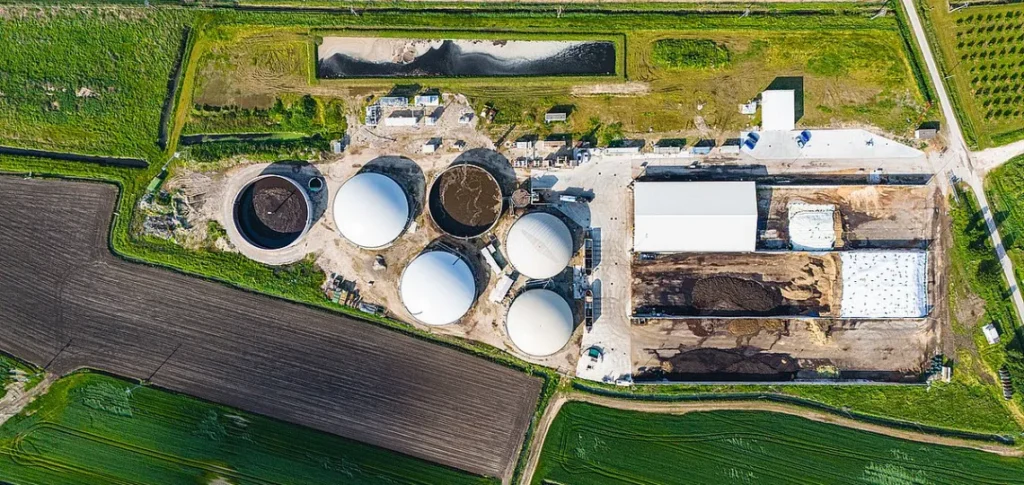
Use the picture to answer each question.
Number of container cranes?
zero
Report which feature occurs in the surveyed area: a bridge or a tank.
tank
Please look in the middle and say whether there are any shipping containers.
Yes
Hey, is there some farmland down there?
Yes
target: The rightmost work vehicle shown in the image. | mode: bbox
[794,135,808,150]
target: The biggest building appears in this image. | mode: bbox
[632,178,759,253]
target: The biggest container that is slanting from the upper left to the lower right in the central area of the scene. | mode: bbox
[479,246,504,276]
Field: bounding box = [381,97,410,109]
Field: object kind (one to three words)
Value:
building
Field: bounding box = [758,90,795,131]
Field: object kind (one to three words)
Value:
shed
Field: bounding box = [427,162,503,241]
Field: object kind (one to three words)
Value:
storage tank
